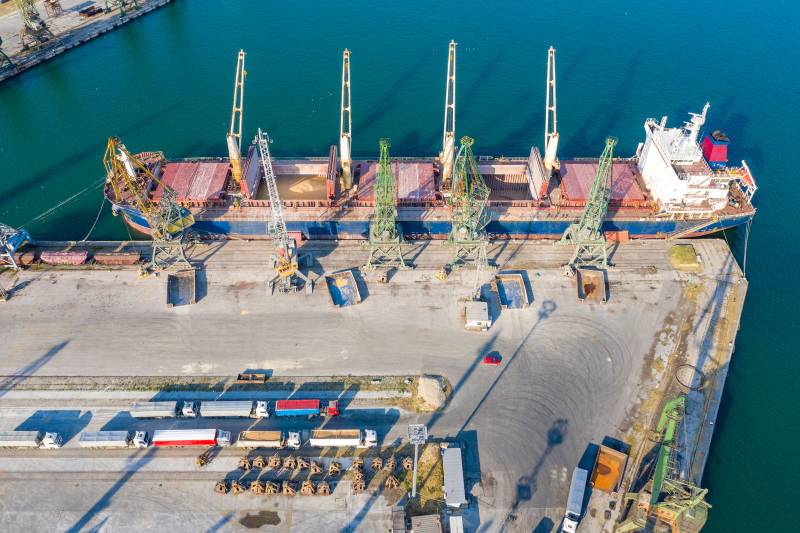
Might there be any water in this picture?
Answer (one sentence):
Yes, water can be seen from above here.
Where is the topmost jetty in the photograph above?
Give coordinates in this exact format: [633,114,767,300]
[0,0,184,87]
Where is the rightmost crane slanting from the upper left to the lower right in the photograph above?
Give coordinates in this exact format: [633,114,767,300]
[108,132,201,268]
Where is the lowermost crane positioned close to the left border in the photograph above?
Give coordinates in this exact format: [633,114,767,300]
[0,205,41,268]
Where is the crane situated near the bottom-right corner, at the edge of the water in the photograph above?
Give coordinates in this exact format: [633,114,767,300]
[618,390,705,533]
